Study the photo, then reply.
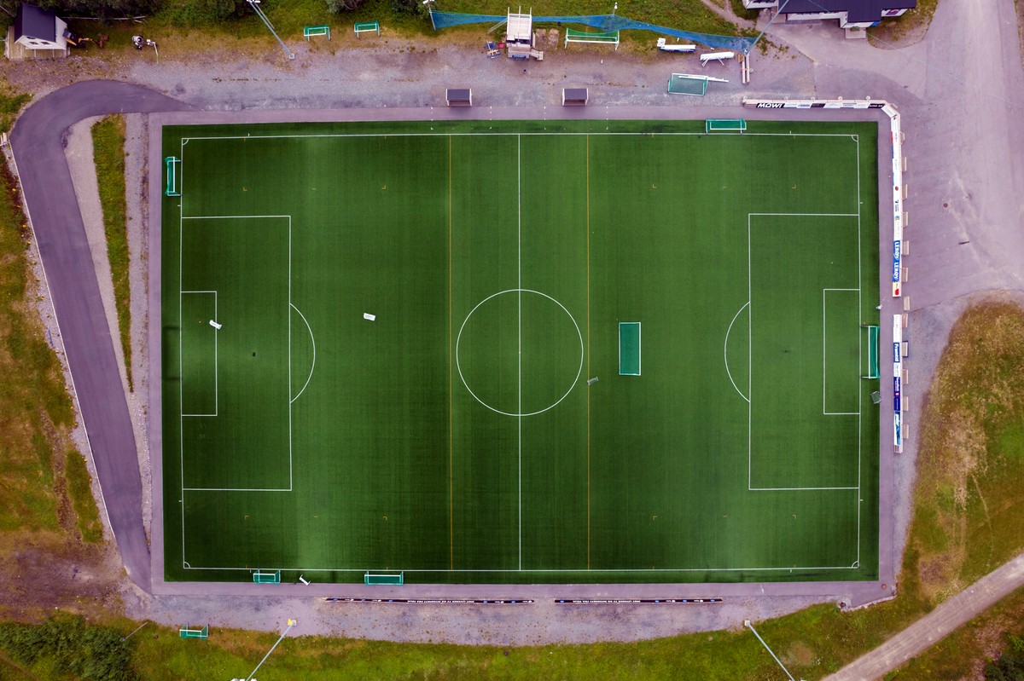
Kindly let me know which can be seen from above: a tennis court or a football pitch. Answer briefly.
football pitch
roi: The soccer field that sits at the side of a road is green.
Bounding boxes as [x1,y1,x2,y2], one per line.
[162,112,880,585]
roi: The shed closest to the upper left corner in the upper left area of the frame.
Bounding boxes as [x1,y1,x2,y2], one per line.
[7,4,70,58]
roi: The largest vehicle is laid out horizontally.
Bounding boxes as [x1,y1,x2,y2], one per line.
[62,29,99,48]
